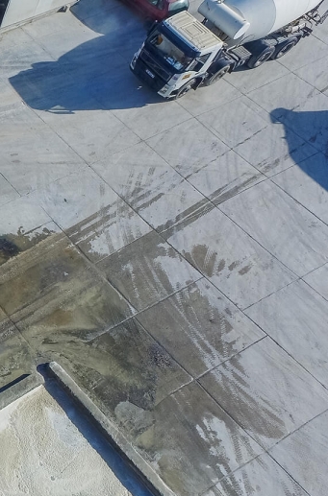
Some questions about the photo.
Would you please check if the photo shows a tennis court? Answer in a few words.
No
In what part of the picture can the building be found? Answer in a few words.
top left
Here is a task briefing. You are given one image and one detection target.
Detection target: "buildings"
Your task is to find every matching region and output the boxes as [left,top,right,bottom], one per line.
[0,0,61,29]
